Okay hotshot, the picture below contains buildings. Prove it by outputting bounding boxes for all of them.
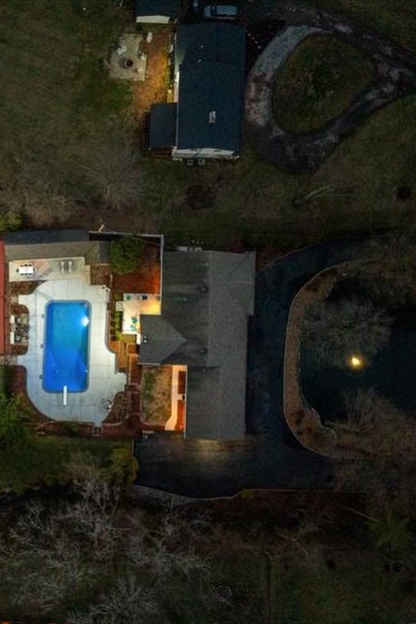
[4,229,96,263]
[173,21,245,158]
[135,251,256,439]
[135,0,179,25]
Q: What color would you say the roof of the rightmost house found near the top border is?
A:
black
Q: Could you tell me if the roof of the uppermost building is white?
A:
No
